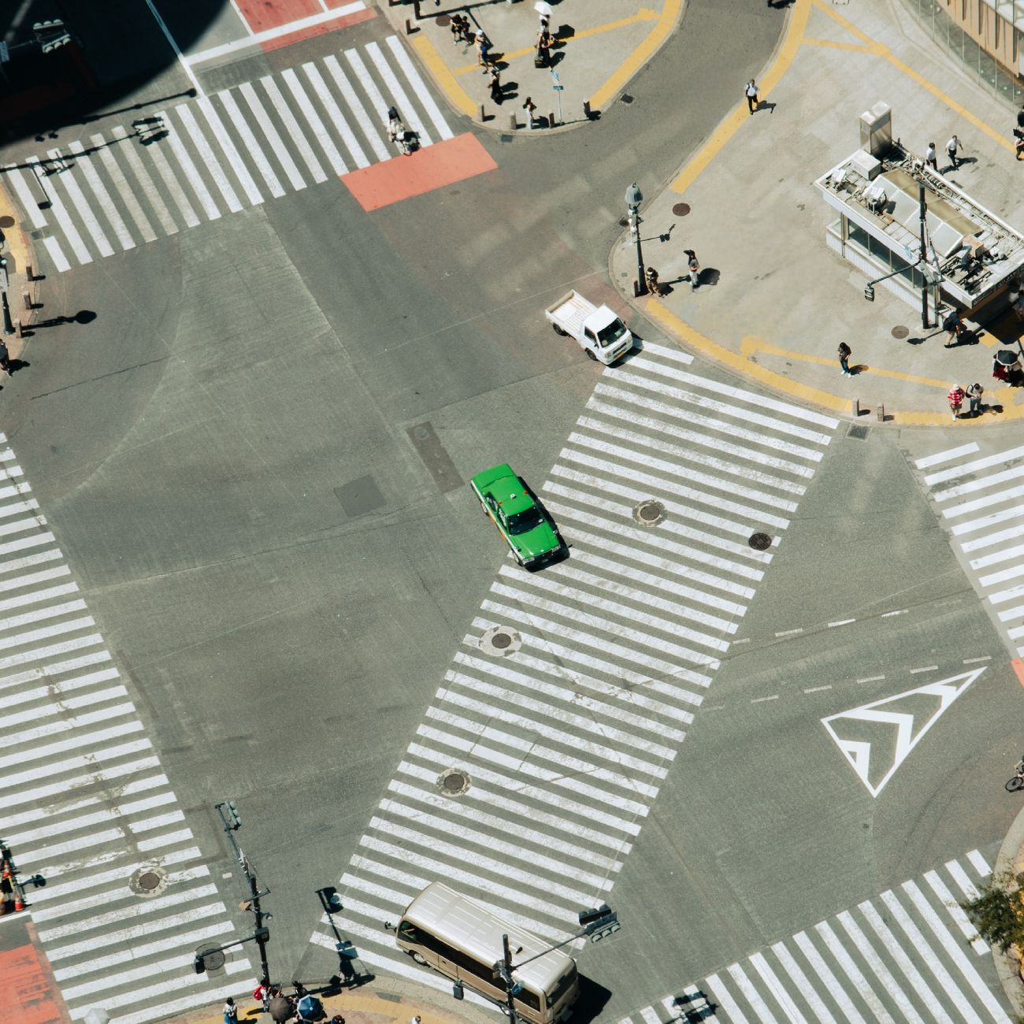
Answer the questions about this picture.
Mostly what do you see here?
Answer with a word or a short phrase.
paved ground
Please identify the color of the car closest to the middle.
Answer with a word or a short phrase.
green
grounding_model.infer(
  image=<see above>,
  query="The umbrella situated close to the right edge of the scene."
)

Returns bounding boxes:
[992,350,1016,373]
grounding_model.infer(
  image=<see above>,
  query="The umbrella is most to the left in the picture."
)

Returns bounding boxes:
[84,1003,110,1024]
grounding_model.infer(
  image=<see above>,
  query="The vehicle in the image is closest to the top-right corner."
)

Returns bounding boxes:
[543,285,633,364]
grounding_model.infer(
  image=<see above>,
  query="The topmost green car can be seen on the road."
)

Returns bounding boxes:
[469,464,564,570]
